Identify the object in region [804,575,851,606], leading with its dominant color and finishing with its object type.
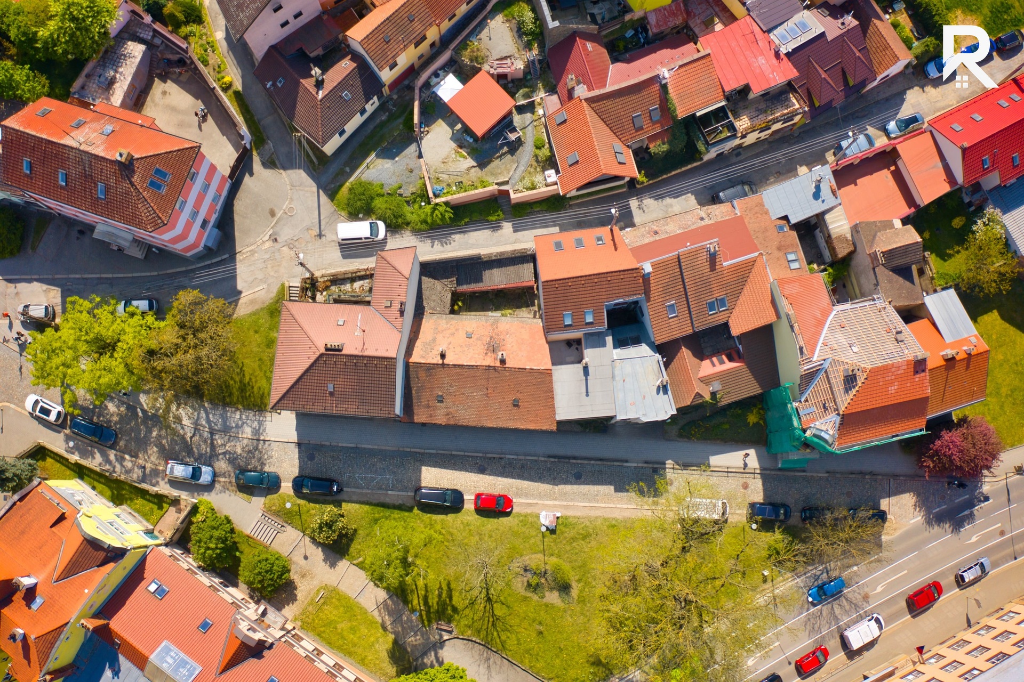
blue car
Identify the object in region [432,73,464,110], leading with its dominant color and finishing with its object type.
white tent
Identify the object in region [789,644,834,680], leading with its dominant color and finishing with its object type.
red car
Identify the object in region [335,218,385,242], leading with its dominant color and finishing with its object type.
white vehicle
